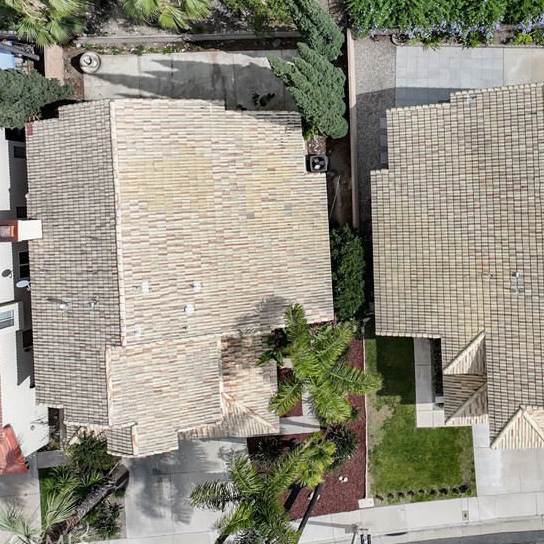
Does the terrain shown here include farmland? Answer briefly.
No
